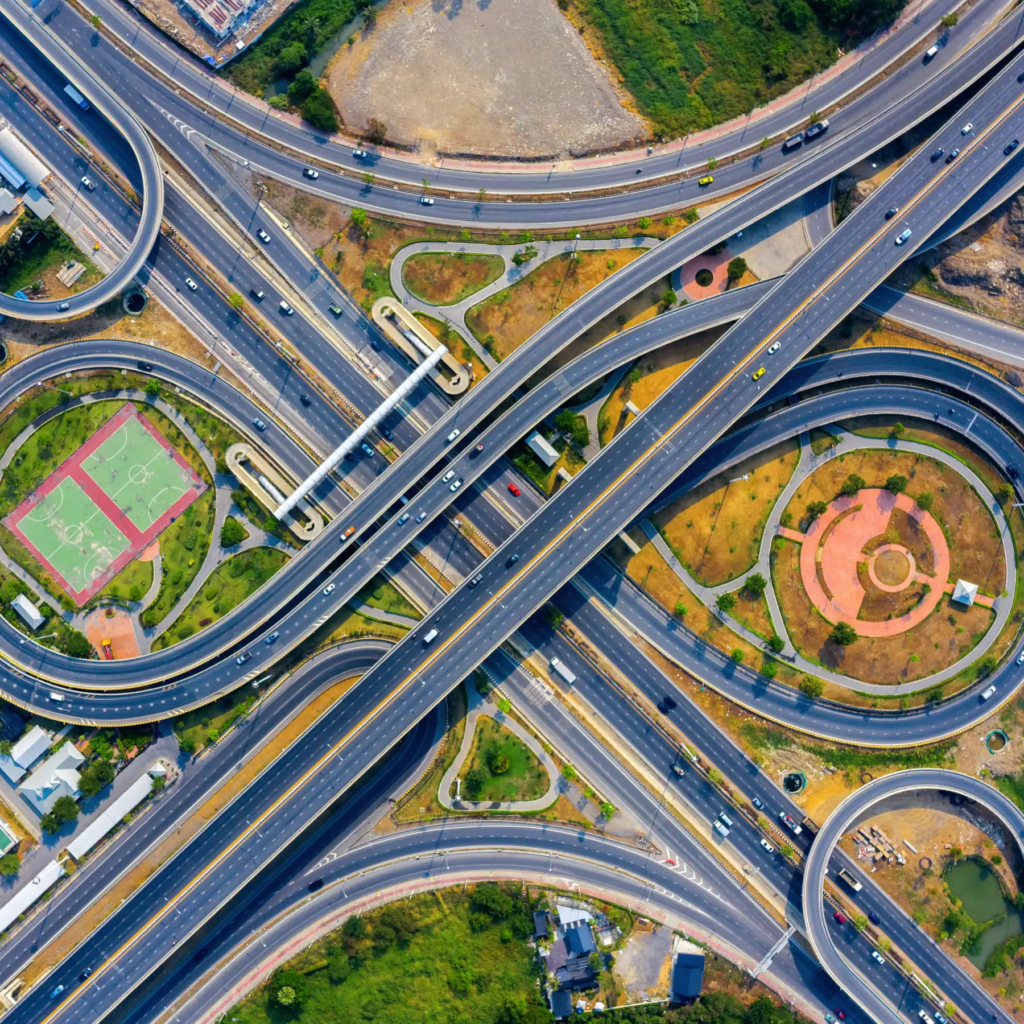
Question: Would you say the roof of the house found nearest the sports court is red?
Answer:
No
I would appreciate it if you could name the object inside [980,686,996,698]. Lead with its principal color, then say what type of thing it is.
white vehicle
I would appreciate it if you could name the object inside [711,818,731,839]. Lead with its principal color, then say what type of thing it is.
white vehicle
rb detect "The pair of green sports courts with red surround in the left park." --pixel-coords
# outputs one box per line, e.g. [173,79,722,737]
[1,403,208,606]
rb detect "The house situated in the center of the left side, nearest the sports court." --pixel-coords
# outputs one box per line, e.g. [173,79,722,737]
[13,593,47,630]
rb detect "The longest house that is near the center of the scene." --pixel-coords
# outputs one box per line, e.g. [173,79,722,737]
[526,430,560,466]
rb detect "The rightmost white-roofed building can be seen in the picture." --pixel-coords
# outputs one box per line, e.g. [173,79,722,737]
[948,579,978,606]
